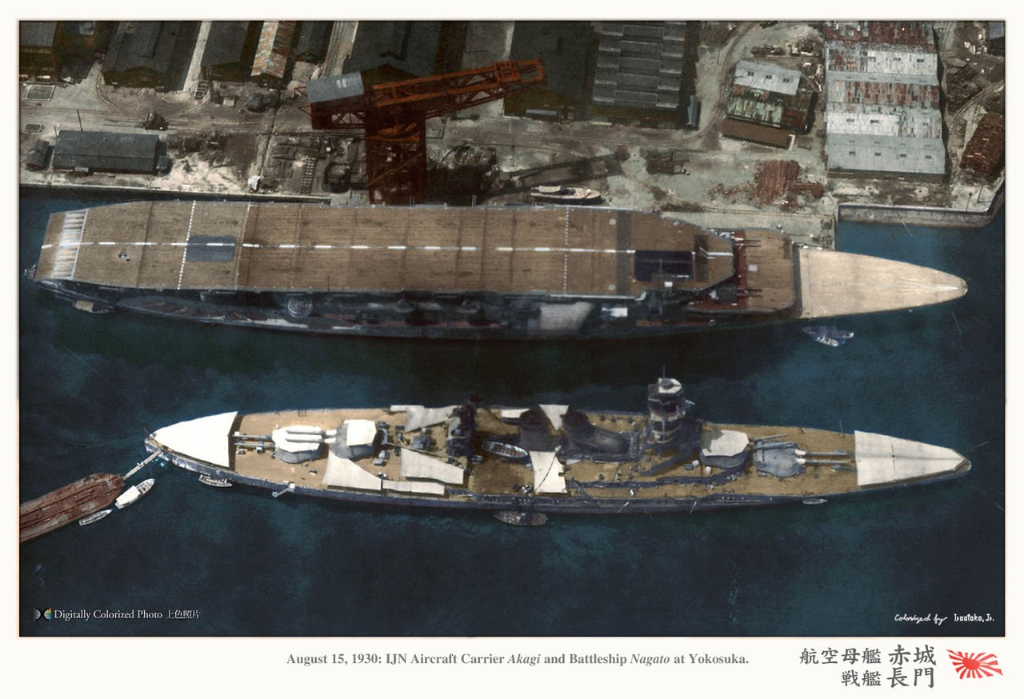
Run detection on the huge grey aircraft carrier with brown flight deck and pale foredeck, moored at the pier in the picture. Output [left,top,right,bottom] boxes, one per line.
[33,185,973,342]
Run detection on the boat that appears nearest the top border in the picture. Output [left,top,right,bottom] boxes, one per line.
[531,186,602,202]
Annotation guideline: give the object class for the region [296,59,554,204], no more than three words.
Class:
crane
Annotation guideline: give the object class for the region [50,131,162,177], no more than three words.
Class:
building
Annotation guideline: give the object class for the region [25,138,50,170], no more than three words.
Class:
shed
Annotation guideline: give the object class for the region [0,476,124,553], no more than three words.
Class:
ship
